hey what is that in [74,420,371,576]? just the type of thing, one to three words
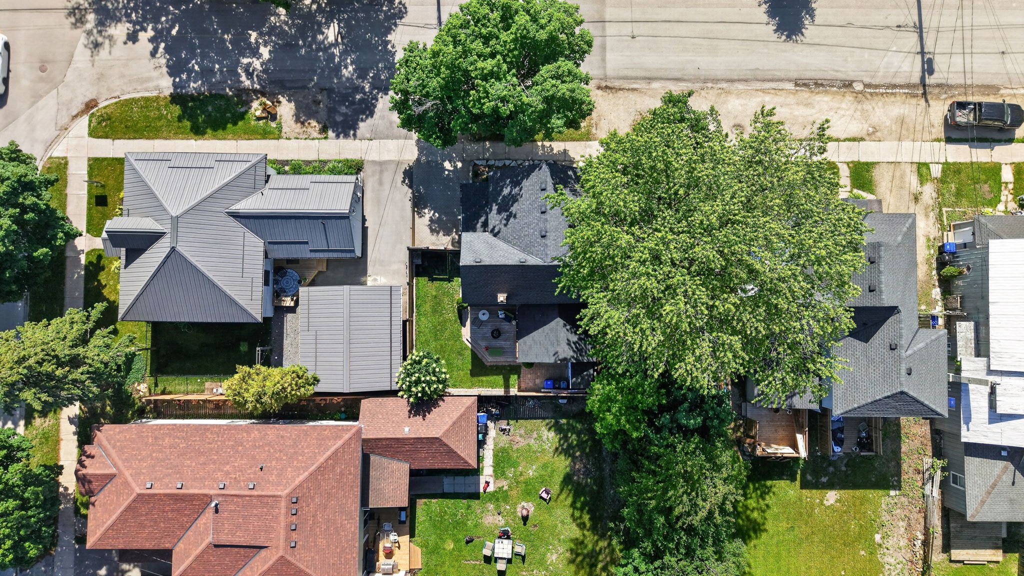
house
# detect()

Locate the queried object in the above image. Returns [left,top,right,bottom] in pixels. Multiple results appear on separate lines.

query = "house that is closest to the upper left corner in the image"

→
[99,151,364,325]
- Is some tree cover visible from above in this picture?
Yes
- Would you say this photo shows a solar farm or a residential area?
residential area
